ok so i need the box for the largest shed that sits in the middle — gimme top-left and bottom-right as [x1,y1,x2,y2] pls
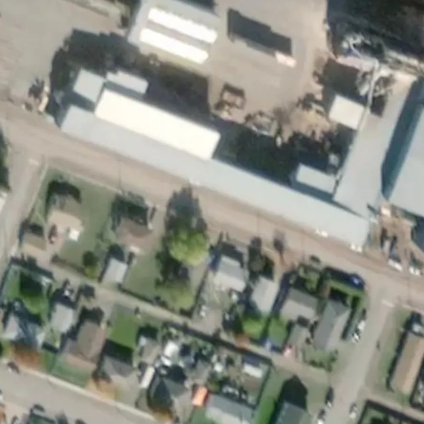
[58,107,373,246]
